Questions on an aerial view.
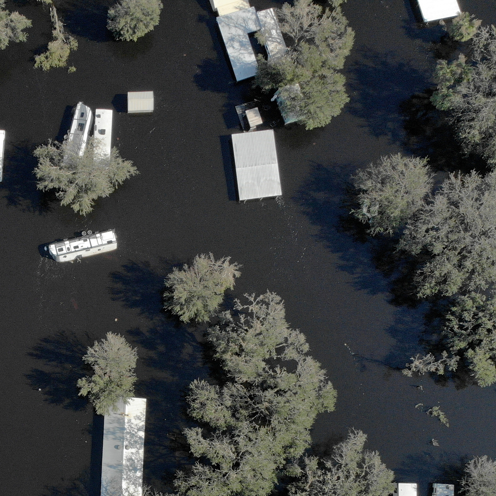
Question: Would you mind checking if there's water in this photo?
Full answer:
Yes, the picture does contain water.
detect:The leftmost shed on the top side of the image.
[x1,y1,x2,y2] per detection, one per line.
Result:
[128,92,154,114]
